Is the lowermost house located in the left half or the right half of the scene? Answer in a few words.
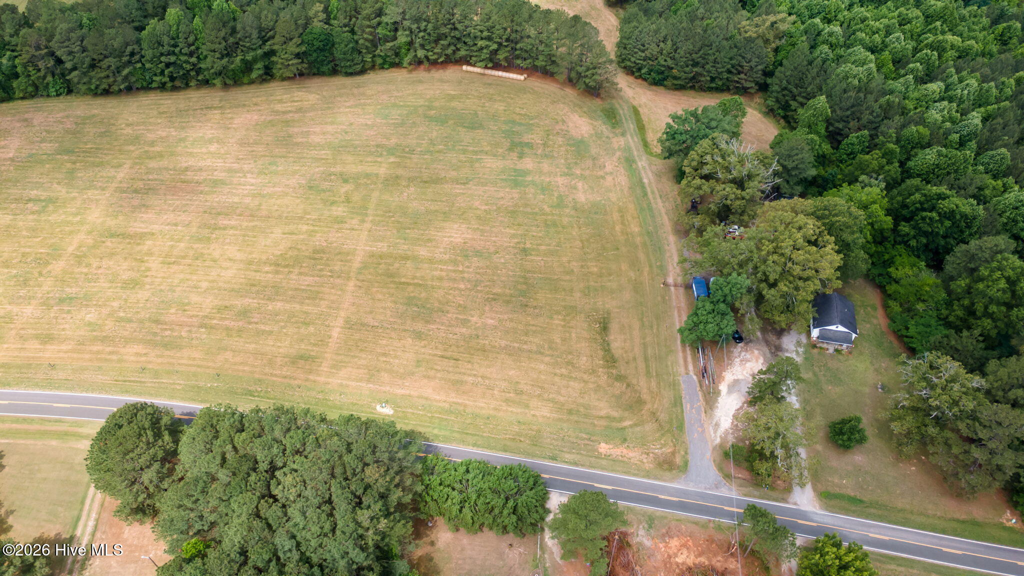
right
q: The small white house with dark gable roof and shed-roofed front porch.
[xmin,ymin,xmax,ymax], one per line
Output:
[807,292,858,355]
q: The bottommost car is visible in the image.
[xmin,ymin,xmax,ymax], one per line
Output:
[733,332,745,347]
